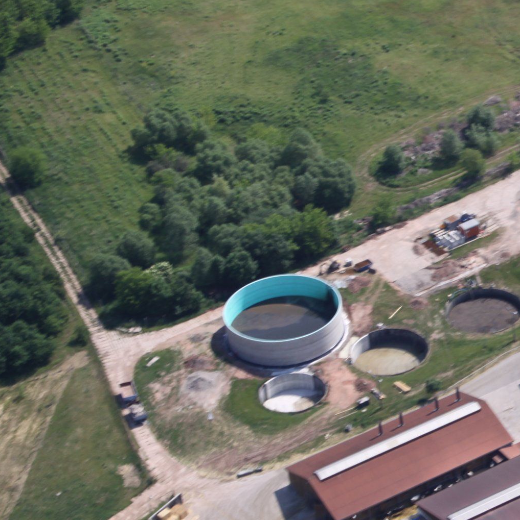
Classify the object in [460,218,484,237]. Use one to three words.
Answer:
building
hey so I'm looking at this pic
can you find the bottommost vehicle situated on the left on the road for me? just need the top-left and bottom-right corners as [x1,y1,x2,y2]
[126,399,147,428]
